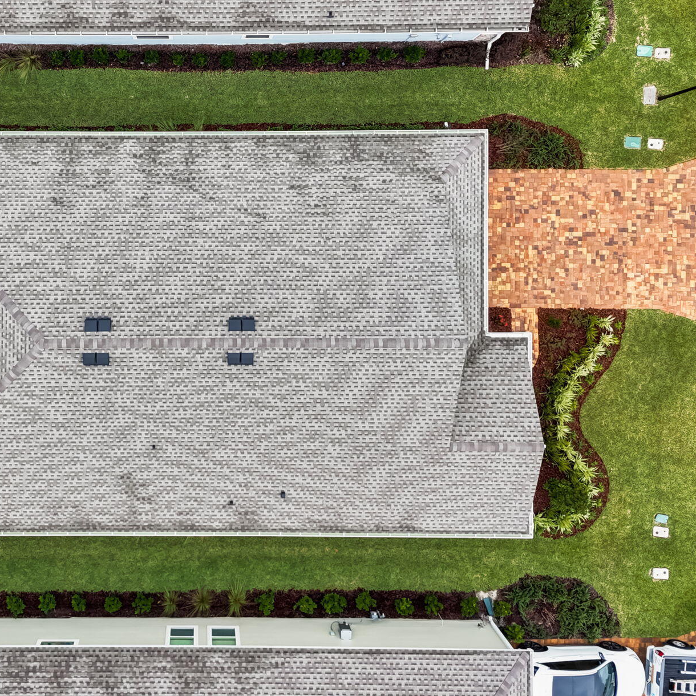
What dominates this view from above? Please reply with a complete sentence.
Most of the picture is covered by buildings.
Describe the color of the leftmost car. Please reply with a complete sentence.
The leftmost car looks white in the image.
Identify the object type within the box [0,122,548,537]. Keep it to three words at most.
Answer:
house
